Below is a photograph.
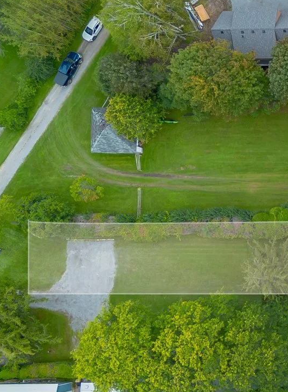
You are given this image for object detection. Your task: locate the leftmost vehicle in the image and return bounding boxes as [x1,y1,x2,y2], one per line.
[55,51,84,88]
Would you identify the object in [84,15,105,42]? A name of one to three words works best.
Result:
car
